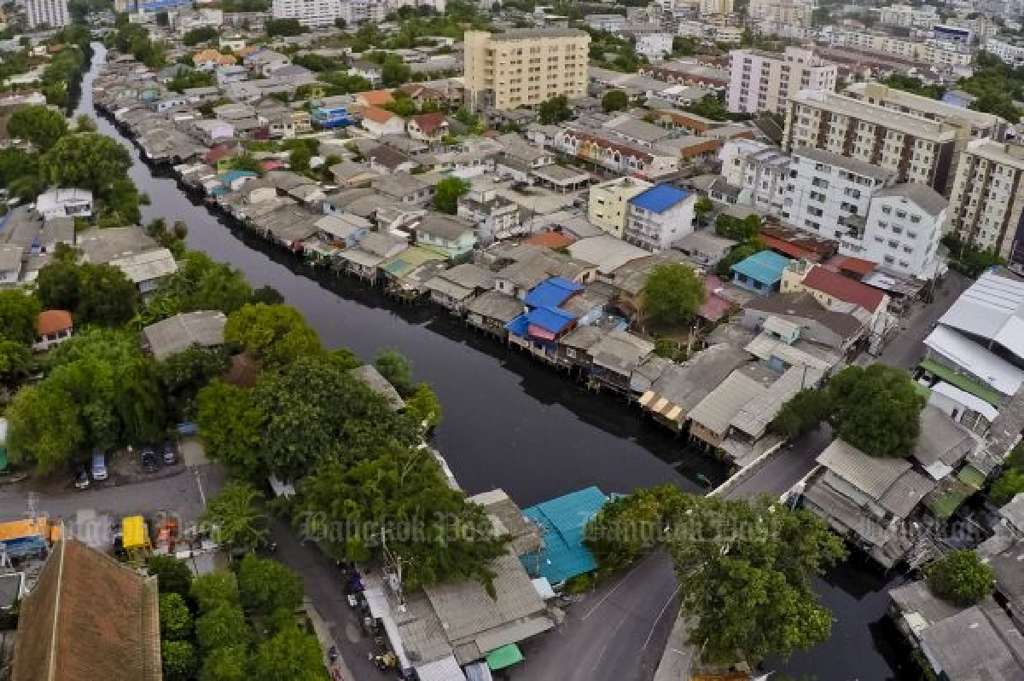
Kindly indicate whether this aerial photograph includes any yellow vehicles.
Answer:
Yes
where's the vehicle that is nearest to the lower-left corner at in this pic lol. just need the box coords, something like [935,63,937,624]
[116,516,144,556]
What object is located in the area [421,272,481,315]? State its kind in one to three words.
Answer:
house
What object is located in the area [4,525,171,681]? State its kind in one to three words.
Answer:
building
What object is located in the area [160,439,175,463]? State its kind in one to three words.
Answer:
car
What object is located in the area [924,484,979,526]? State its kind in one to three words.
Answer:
shed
